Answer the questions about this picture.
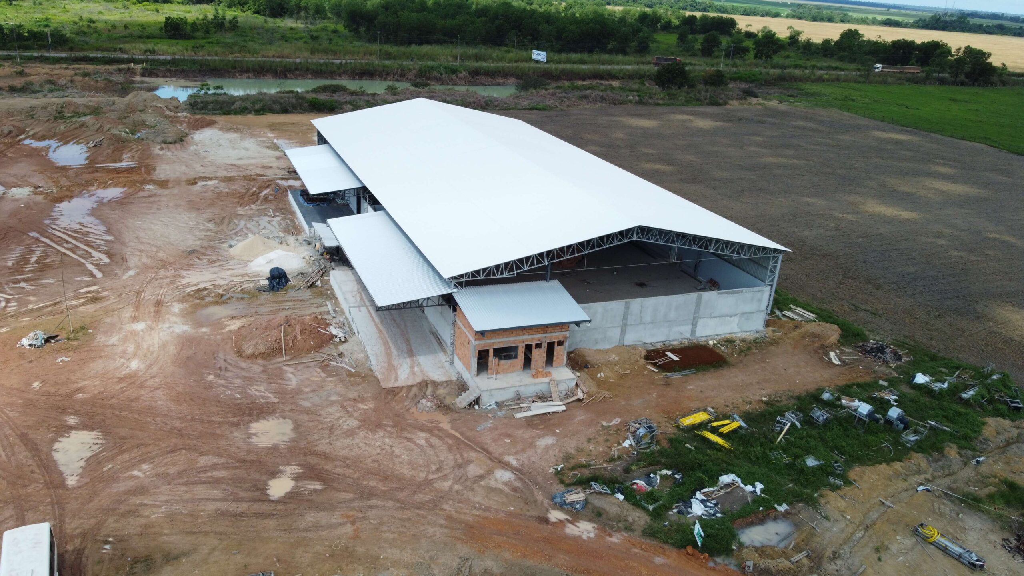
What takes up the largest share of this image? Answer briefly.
paved ground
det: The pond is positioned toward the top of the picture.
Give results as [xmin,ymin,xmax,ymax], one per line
[154,80,524,100]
